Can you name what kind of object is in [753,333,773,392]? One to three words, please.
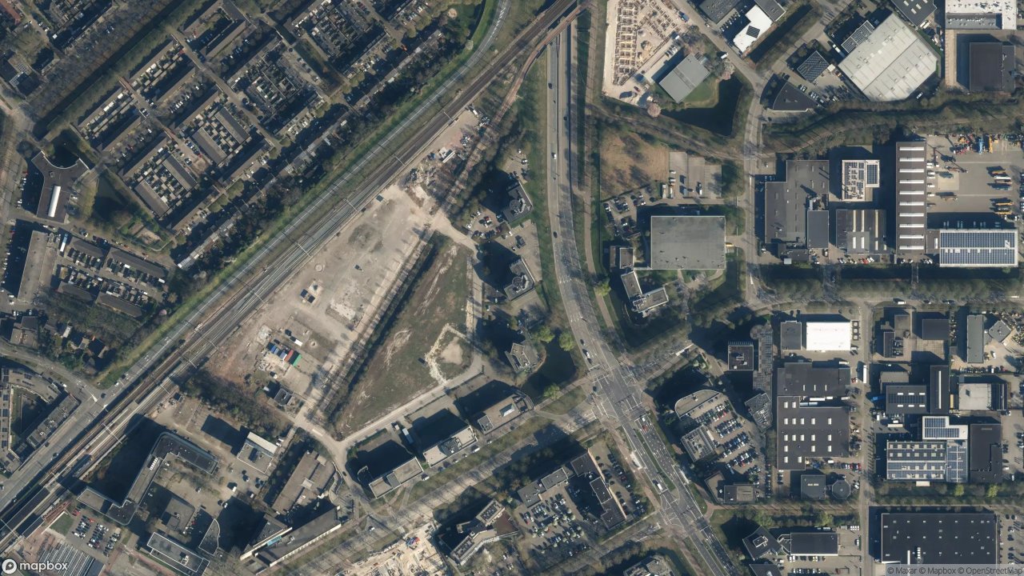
greenhouse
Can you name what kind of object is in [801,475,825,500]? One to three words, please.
building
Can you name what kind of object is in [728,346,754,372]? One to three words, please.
building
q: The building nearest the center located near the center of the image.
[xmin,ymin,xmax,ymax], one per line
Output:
[505,258,536,302]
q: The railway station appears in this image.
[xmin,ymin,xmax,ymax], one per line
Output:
[0,372,174,557]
